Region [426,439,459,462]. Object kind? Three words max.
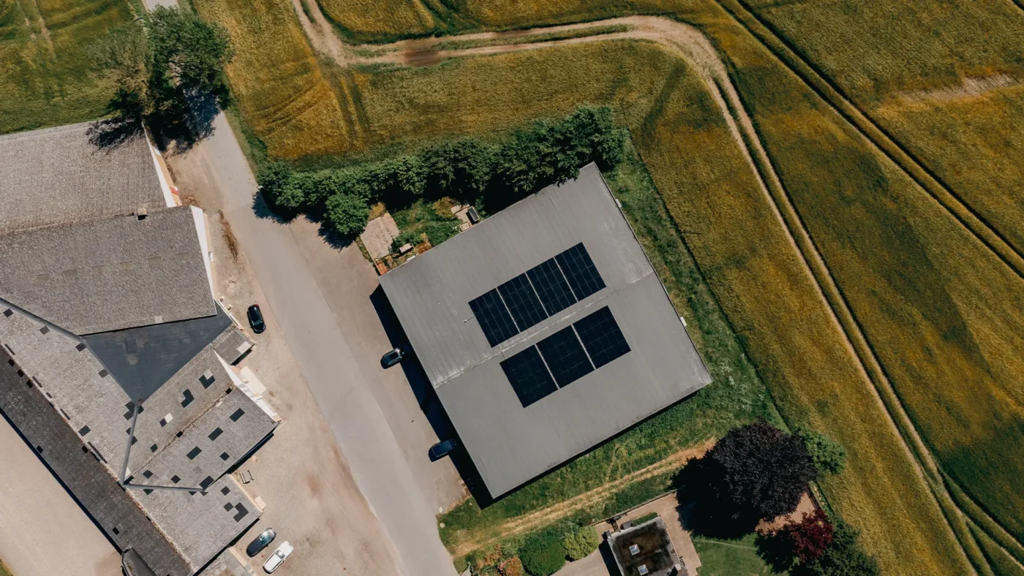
car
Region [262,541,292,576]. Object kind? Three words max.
car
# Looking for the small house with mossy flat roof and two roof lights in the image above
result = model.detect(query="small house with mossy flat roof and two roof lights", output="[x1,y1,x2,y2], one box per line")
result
[607,513,688,576]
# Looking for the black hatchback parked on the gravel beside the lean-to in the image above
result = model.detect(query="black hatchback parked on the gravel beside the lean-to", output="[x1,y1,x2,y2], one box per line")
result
[245,303,264,334]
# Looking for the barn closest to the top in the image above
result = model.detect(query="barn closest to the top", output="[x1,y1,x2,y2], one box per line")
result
[0,118,182,234]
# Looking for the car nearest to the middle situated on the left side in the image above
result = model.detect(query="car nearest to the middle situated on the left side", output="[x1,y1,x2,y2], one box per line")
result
[379,346,410,370]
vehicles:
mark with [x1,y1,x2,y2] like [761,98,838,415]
[379,346,410,370]
[262,541,292,576]
[245,303,264,334]
[426,439,459,462]
[243,528,277,560]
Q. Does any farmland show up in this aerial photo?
Yes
